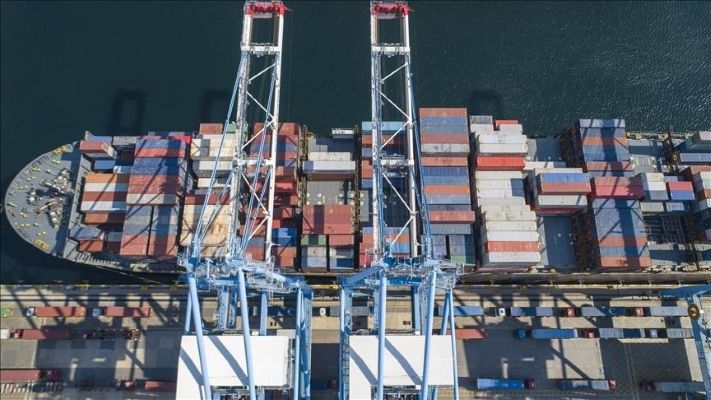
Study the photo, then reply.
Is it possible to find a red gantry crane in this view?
No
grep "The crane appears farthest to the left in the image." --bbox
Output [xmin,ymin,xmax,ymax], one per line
[179,0,329,400]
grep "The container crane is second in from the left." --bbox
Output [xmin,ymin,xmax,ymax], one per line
[333,0,467,400]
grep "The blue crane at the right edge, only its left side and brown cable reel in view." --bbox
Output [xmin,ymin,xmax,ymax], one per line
[649,290,711,399]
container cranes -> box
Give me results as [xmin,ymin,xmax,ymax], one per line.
[179,0,329,400]
[333,0,467,400]
[649,290,711,399]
